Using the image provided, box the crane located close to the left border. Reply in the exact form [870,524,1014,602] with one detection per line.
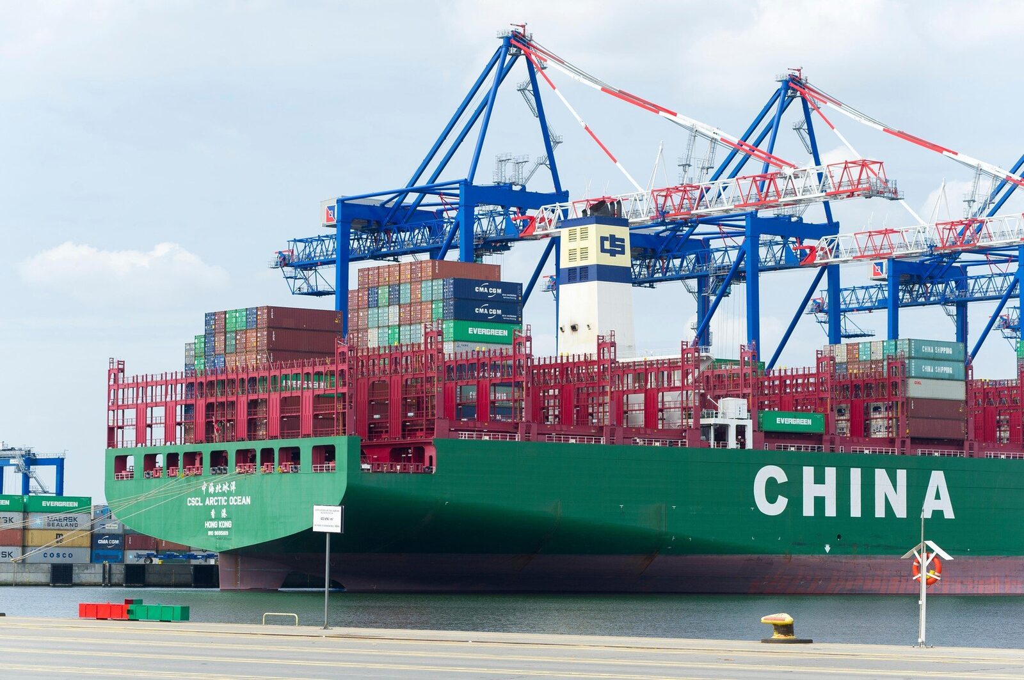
[0,442,70,497]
